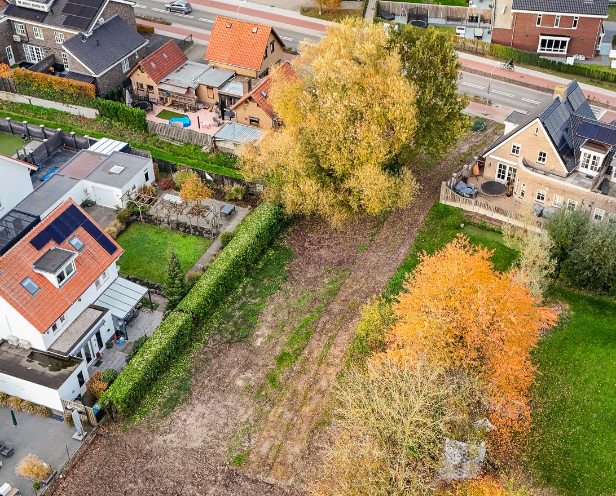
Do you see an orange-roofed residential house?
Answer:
Yes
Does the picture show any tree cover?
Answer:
Yes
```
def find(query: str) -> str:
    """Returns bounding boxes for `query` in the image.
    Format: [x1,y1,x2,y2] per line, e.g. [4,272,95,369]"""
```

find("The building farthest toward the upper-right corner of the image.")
[491,0,610,57]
